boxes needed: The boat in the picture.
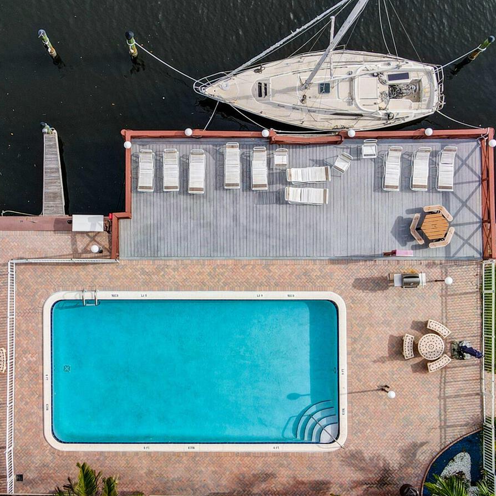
[194,0,445,131]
